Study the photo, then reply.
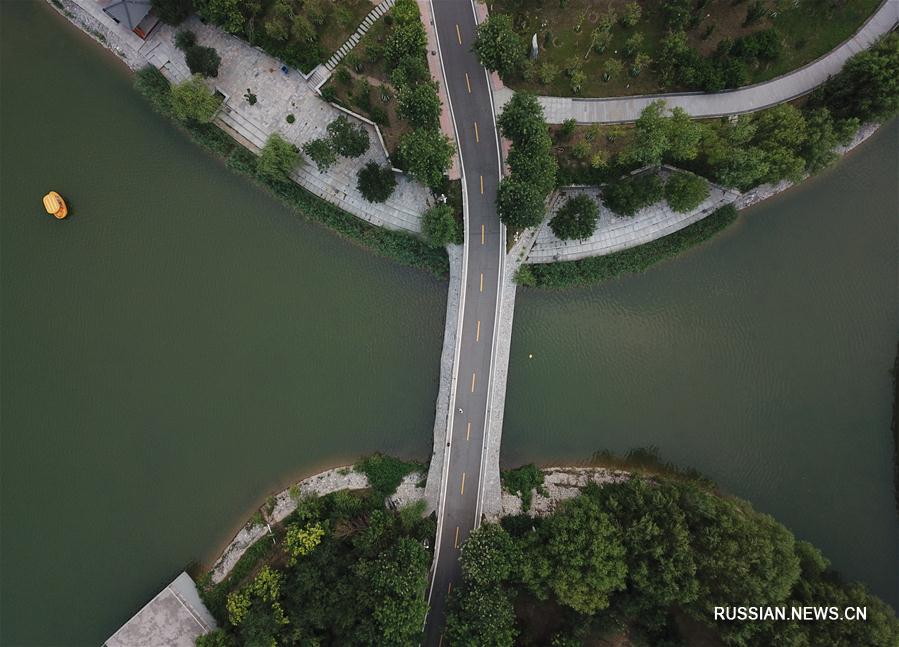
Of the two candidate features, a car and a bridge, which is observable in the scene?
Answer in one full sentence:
I can see a bridge in this picture.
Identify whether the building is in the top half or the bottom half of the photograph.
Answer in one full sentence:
Seen from above, the building lies in the top half of the view.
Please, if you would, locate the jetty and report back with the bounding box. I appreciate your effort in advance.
[100,567,225,647]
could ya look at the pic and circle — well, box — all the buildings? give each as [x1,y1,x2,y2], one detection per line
[102,0,160,42]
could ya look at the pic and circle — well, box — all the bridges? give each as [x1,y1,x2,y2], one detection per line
[424,238,520,517]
